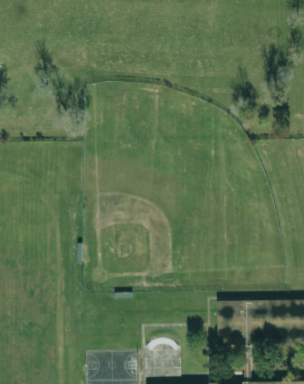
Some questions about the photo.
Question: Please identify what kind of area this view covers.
sports ground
